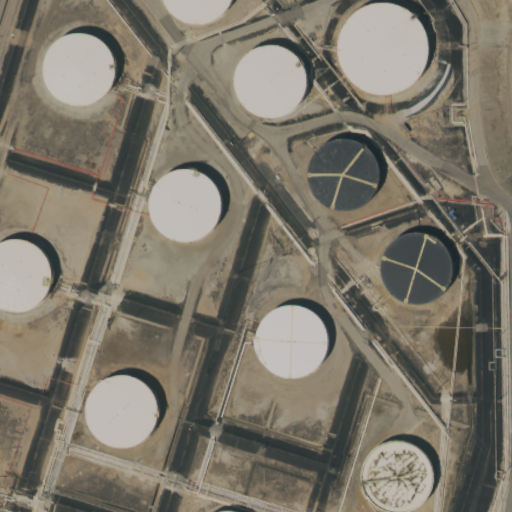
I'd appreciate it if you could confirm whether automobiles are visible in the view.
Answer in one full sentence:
No, no automobile can be seen from above.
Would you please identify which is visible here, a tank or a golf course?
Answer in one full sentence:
I can see a tank in this picture.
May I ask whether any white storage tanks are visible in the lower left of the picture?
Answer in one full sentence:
Yes, I can see a white storage tank in the lower left of the picture.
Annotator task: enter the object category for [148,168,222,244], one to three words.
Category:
storage tank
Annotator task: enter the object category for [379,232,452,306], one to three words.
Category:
storage tank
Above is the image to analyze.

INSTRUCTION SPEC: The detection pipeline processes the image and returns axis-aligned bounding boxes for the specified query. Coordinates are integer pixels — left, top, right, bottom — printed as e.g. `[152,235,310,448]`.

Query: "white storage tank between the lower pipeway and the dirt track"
[85,374,159,448]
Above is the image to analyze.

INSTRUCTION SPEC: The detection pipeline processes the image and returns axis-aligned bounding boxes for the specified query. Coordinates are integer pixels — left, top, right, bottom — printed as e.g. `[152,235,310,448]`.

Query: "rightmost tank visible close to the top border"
[336,3,429,97]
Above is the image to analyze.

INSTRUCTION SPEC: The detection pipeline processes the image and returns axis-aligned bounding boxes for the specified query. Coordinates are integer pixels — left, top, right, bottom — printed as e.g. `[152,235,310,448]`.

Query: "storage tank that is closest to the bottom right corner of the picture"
[360,440,434,512]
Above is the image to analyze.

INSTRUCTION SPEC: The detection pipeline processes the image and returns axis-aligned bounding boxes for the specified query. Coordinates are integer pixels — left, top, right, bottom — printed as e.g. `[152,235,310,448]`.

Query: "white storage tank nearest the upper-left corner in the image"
[42,32,117,108]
